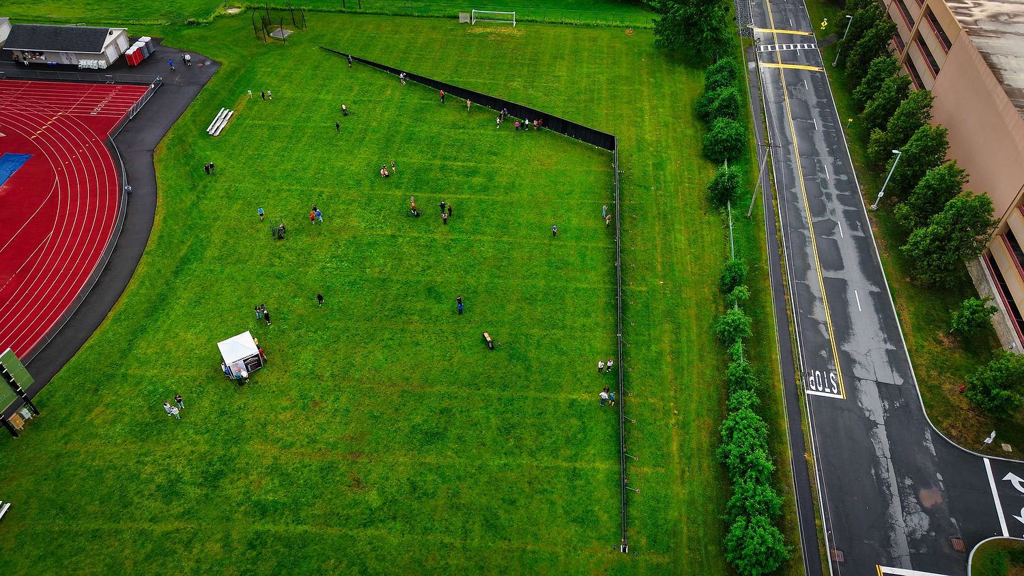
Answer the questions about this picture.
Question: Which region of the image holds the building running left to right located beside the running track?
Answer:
top left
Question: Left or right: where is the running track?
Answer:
left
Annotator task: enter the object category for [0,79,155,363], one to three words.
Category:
running track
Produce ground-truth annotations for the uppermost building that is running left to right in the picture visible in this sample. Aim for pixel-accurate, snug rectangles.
[3,23,131,66]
